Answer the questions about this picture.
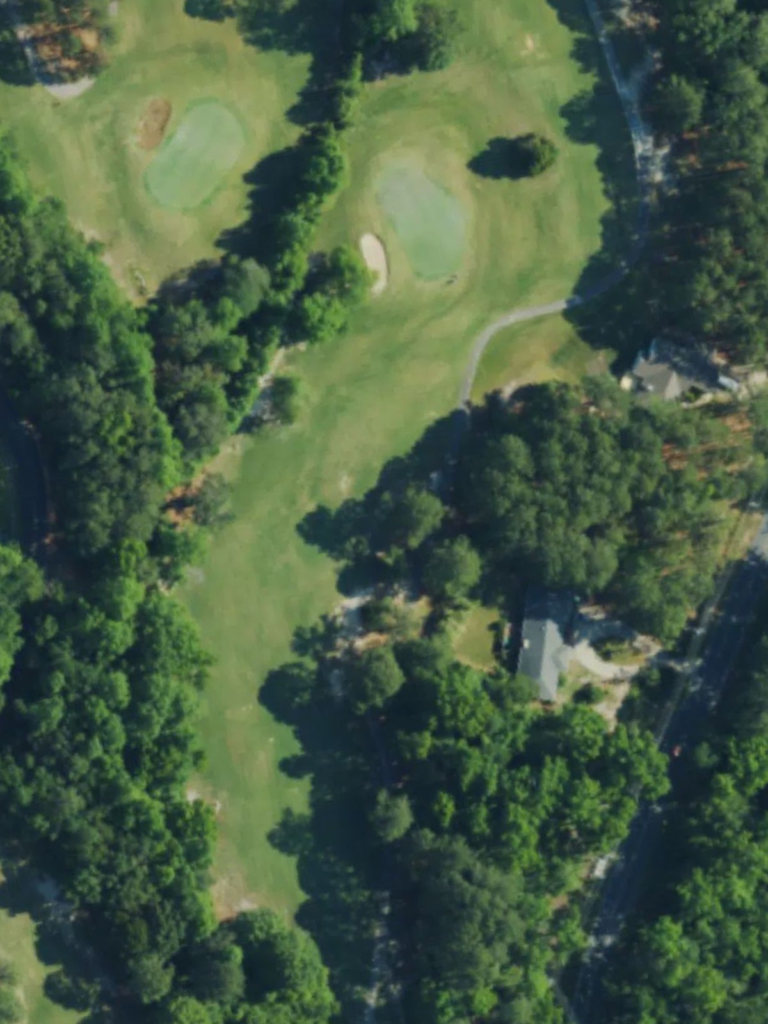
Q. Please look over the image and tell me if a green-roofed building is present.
No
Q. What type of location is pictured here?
golf course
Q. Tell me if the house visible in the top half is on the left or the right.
right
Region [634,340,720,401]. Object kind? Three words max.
house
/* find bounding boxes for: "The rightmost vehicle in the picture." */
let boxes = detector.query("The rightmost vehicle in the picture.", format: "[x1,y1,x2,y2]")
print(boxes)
[718,374,738,391]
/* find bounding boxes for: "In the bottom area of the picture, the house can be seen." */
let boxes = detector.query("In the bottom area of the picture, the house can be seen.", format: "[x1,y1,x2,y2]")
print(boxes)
[519,589,575,702]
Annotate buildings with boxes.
[634,340,720,401]
[519,589,575,702]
